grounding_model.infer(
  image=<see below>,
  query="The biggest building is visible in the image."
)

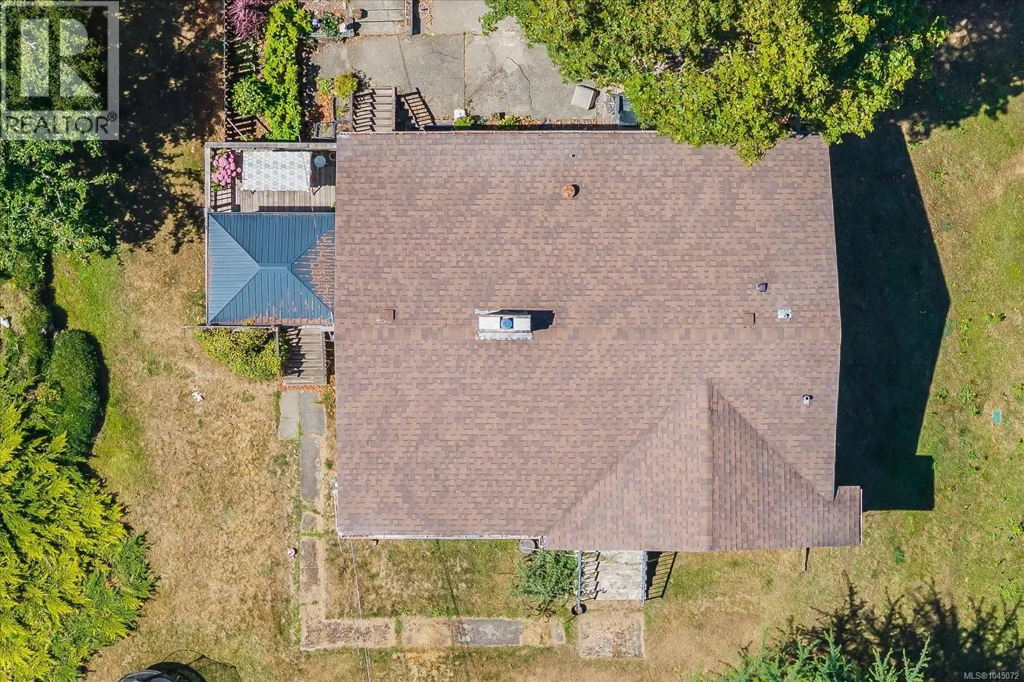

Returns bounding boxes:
[331,128,866,553]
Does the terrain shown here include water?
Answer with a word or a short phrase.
No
